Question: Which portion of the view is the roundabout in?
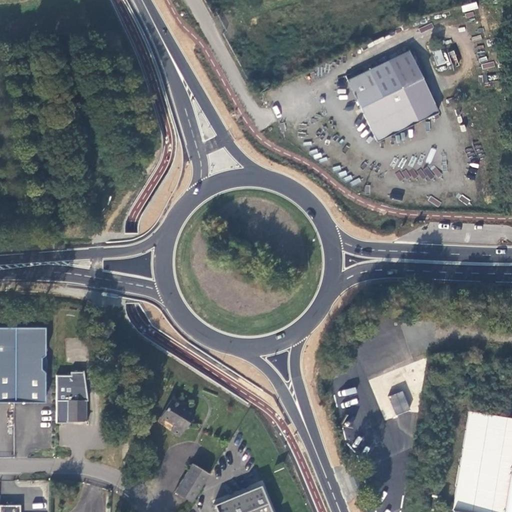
center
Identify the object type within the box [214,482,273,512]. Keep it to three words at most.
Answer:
building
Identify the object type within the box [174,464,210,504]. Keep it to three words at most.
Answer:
shed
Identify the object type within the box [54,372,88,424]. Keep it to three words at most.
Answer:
building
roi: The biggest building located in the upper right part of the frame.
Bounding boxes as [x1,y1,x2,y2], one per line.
[348,51,439,141]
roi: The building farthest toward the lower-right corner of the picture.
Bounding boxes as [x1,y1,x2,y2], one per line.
[453,410,512,512]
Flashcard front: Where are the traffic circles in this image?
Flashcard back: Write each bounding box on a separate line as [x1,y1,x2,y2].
[154,167,344,358]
